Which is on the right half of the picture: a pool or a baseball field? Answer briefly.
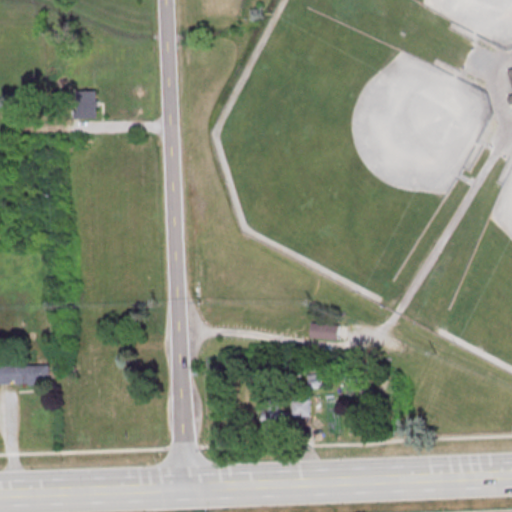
baseball field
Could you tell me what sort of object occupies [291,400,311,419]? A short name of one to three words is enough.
house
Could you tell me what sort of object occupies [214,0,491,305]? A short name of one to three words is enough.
baseball field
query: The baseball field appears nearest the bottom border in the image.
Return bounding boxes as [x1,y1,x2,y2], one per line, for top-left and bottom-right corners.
[435,159,512,375]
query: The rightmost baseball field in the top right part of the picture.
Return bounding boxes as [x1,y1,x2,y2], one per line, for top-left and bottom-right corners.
[414,0,512,48]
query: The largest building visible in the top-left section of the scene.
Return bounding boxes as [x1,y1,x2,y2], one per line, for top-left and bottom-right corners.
[73,90,96,119]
